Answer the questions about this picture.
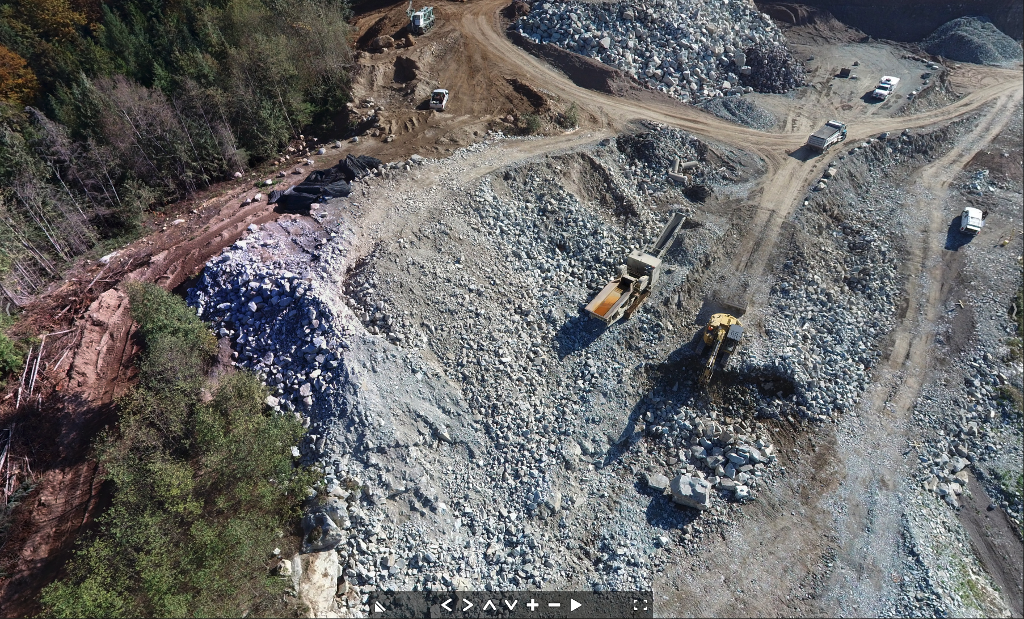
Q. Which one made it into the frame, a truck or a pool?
truck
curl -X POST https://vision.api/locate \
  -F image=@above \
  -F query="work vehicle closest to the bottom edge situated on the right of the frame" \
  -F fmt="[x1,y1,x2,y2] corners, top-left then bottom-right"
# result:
[695,309,745,382]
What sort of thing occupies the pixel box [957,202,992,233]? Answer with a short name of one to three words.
truck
